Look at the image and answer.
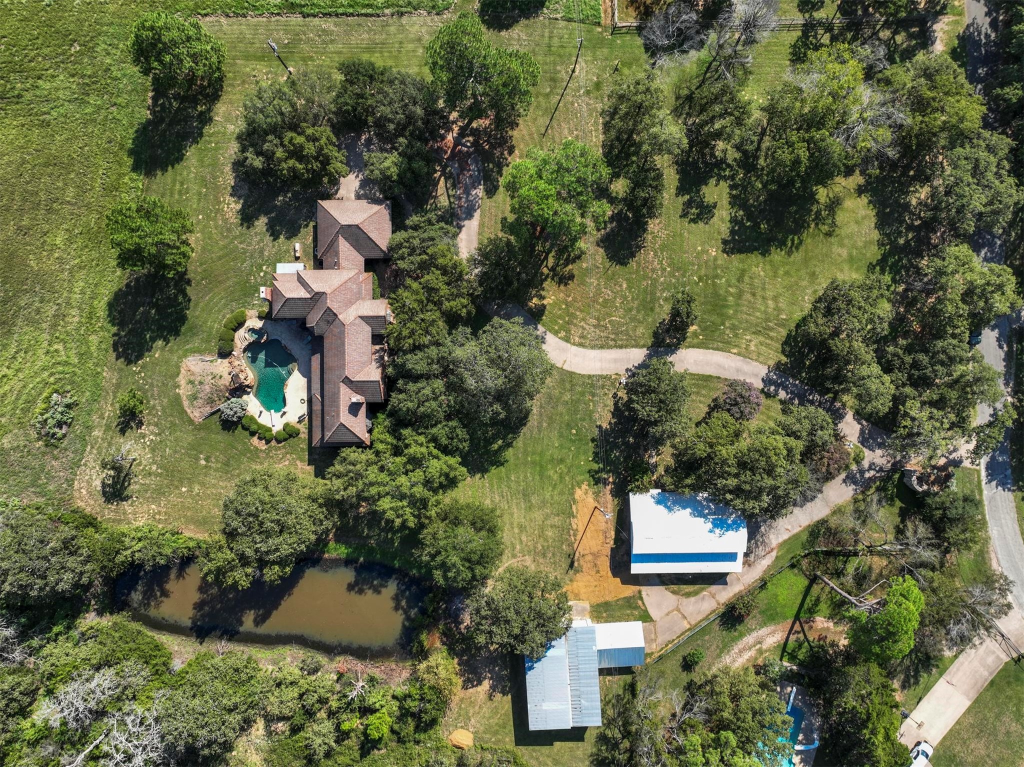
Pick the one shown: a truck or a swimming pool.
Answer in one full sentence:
This aerial view contains a swimming pool.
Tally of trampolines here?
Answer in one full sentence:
Not a single trampoline can be seen.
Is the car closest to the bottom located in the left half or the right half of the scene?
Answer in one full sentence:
The car closest to the bottom is on the right side of the image.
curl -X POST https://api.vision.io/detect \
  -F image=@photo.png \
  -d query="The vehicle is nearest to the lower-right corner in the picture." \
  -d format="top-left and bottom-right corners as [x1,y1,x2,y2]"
[912,746,934,767]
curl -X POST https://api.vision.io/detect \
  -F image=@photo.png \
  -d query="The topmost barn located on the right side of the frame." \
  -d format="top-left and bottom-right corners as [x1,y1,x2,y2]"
[629,488,748,574]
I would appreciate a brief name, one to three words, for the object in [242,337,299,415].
swimming pool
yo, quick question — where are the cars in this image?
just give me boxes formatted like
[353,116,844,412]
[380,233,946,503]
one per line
[967,315,983,344]
[912,746,934,767]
